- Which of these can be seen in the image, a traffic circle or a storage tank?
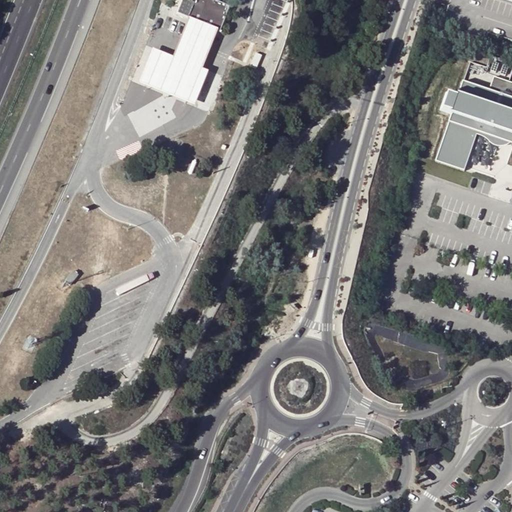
traffic circle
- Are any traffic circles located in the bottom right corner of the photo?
Yes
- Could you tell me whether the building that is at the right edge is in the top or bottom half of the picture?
top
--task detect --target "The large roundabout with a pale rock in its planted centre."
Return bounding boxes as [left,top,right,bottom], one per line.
[168,322,402,512]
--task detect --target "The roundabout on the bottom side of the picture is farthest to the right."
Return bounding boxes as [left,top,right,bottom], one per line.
[460,358,512,425]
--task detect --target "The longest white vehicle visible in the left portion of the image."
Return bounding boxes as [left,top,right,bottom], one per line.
[112,273,151,296]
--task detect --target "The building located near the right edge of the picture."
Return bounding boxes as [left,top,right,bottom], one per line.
[436,62,512,170]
